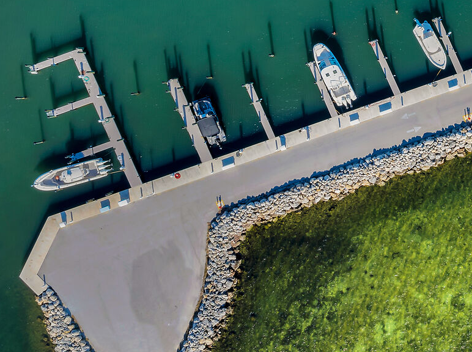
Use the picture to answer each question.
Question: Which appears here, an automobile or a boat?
boat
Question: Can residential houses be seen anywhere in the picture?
No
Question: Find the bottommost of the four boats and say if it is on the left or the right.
left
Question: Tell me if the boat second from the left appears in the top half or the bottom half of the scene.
top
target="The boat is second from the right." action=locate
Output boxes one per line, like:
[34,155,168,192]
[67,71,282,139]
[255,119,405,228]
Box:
[316,45,352,108]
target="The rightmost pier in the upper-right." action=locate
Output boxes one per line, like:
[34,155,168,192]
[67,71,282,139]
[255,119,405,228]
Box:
[431,16,463,73]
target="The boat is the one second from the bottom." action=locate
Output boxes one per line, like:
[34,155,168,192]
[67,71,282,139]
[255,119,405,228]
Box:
[196,99,226,146]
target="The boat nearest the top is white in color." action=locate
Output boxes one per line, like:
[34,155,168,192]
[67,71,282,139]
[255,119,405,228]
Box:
[414,22,446,69]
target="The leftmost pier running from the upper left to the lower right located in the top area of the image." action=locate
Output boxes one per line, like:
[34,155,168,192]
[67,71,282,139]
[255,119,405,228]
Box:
[25,47,142,188]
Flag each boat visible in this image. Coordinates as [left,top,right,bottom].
[196,99,226,146]
[414,22,446,69]
[30,161,110,191]
[316,45,352,108]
